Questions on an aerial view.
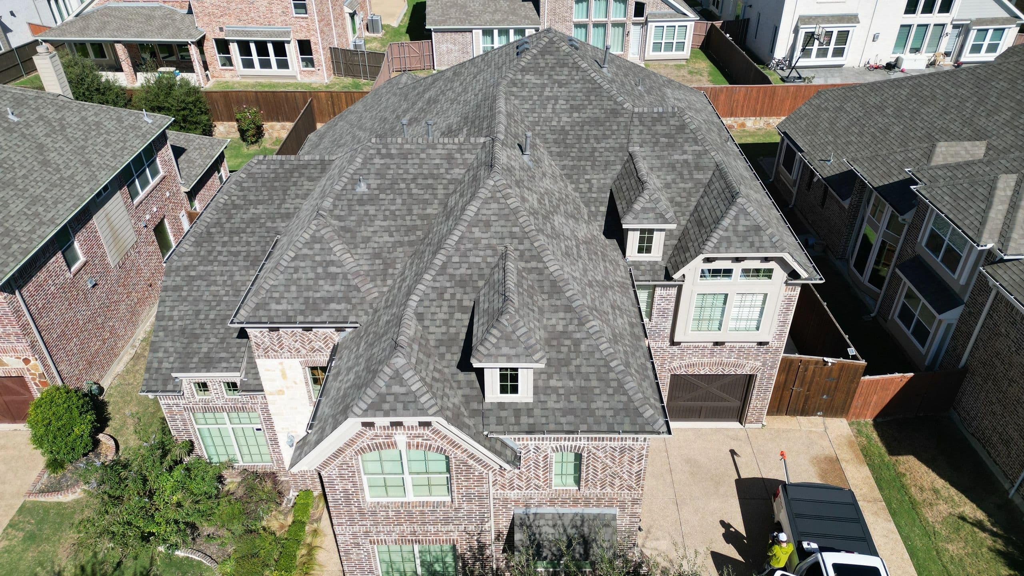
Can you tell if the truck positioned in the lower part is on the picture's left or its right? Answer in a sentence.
The truck positioned in the lower part appears in the right half of the scene.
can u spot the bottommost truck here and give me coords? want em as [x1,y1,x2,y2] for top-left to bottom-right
[772,479,902,576]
